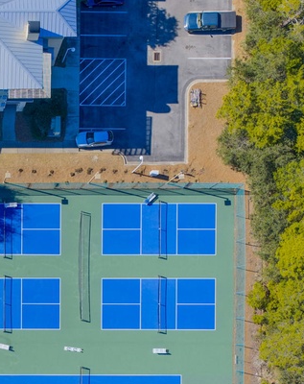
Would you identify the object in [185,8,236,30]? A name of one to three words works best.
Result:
truck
